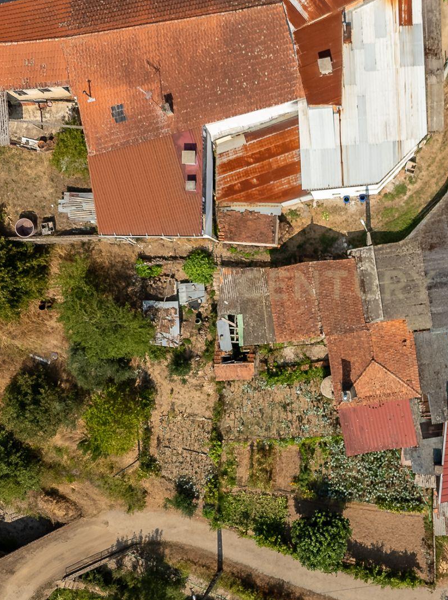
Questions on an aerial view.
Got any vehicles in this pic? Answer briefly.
No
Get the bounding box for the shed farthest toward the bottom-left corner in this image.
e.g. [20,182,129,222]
[143,301,185,347]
